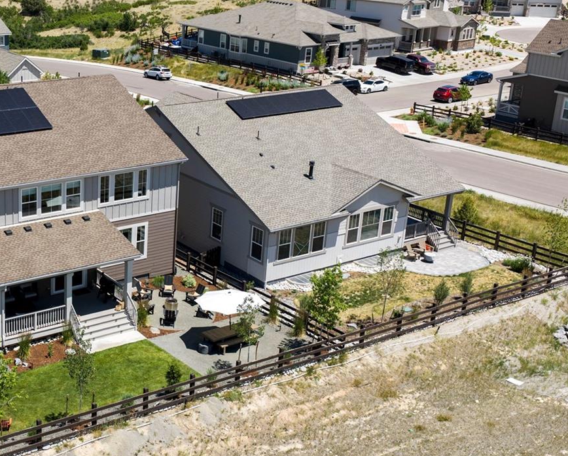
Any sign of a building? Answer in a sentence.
Yes, the picture does show a building.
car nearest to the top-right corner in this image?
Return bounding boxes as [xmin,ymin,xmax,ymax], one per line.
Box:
[462,69,492,84]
